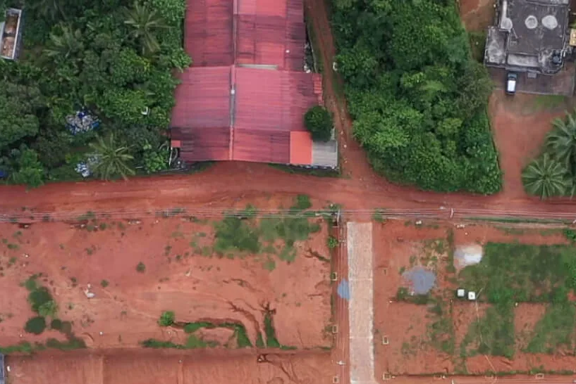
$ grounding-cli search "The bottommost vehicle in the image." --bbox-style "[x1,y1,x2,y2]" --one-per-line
[504,72,517,94]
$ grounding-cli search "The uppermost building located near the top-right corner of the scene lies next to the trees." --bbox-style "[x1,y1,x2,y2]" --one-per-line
[486,0,569,79]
